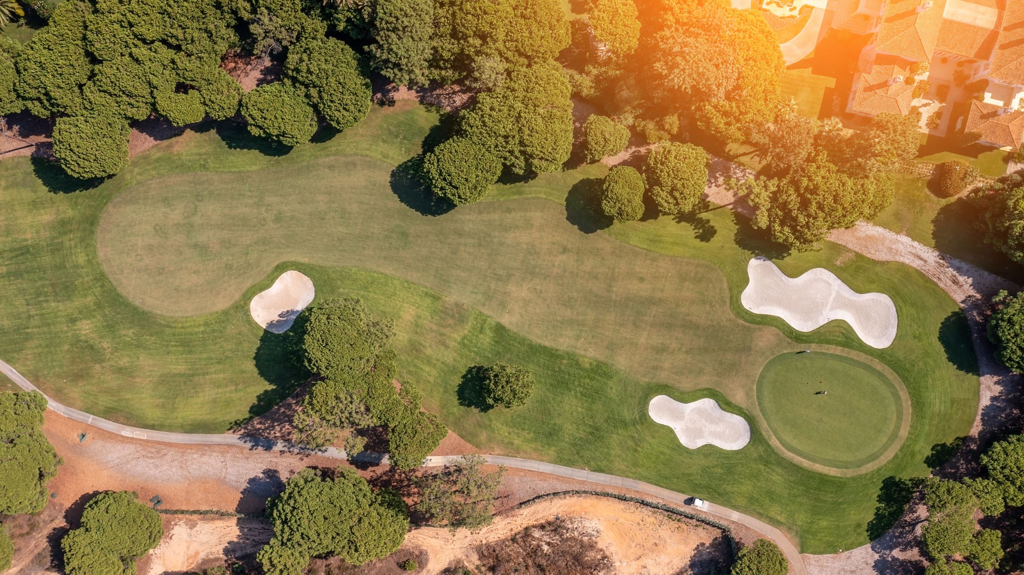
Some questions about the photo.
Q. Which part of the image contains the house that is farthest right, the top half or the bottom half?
top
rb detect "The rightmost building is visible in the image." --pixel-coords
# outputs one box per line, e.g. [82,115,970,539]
[933,0,1024,148]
